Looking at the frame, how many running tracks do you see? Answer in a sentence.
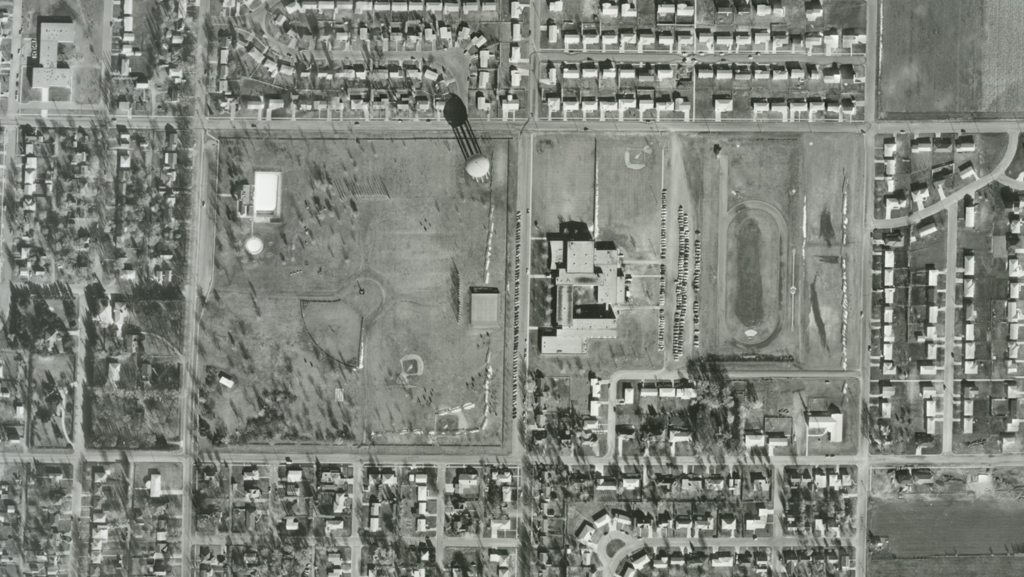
There is 1 running track in the image.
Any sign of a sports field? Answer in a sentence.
Yes, a sports field appears in the view.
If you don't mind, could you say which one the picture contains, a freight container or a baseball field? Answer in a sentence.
I can see a baseball field in this picture.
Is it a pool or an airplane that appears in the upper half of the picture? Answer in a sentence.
The one visible in the upper half of the picture is a pool.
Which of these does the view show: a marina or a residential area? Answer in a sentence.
What you see here is a residential area.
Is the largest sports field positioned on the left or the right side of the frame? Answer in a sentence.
You can find the largest sports field on the right side of the picture.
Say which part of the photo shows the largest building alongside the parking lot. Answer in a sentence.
The largest building alongside the parking lot is located in the center region of the scene.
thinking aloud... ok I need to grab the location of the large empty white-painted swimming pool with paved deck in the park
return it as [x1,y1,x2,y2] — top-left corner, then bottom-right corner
[254,172,281,222]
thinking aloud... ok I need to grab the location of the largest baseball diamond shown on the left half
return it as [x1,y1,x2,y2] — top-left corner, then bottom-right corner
[301,301,362,367]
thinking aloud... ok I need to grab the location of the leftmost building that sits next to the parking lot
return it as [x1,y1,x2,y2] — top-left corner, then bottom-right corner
[542,240,625,354]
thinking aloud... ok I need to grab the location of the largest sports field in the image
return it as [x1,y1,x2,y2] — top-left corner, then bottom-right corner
[697,132,864,371]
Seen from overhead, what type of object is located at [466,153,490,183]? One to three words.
water tower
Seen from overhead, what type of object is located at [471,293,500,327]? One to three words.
tennis court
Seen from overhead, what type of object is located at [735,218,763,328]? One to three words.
sports field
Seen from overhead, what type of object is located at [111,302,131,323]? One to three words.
house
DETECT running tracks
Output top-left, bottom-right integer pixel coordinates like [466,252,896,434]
[718,155,787,351]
